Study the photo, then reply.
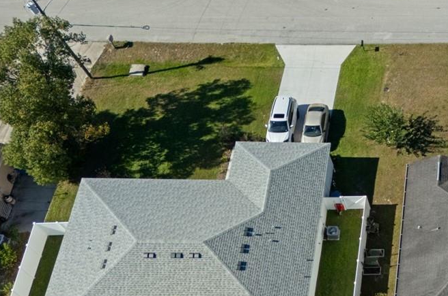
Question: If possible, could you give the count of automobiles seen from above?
2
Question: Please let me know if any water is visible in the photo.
No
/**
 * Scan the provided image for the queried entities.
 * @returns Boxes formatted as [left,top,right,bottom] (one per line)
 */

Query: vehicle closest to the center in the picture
[268,96,301,144]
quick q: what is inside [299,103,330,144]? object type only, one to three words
car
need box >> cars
[299,103,330,144]
[268,96,301,144]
